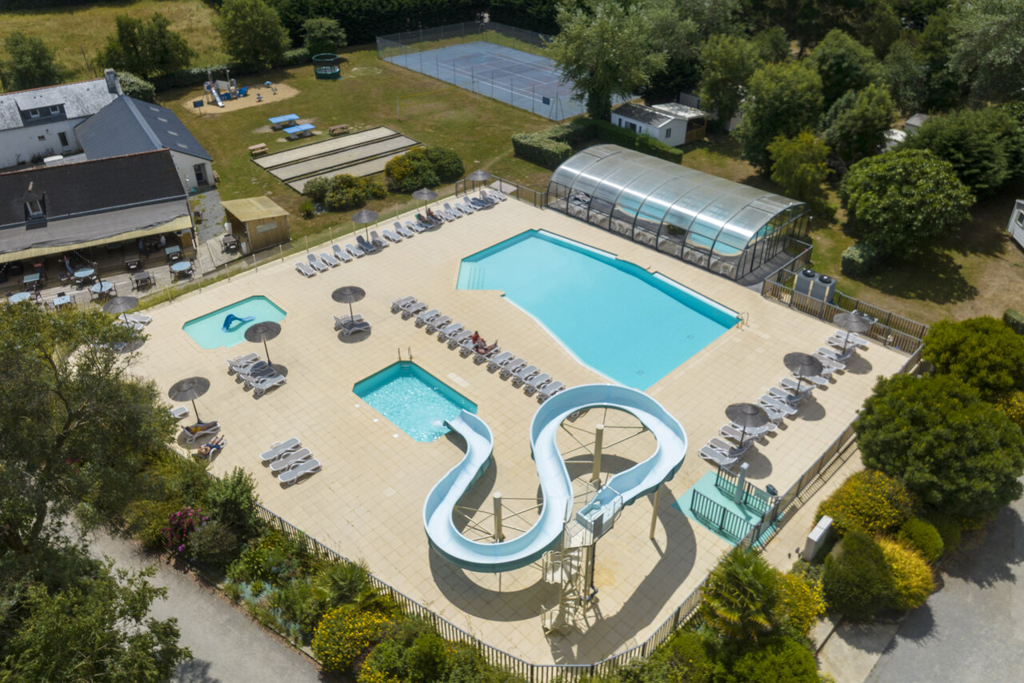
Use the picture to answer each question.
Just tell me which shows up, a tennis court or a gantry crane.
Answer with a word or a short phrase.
tennis court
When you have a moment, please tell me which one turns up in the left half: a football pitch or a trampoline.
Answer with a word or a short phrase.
trampoline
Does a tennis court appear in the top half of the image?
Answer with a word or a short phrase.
Yes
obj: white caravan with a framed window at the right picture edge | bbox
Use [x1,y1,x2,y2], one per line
[989,203,1024,245]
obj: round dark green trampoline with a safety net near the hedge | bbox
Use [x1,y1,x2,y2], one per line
[309,49,340,78]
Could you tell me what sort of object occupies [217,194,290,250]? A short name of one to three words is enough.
shed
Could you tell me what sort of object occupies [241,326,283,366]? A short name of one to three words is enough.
umbrella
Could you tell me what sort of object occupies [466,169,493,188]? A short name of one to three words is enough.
umbrella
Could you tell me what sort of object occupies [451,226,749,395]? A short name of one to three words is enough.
swimming pool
